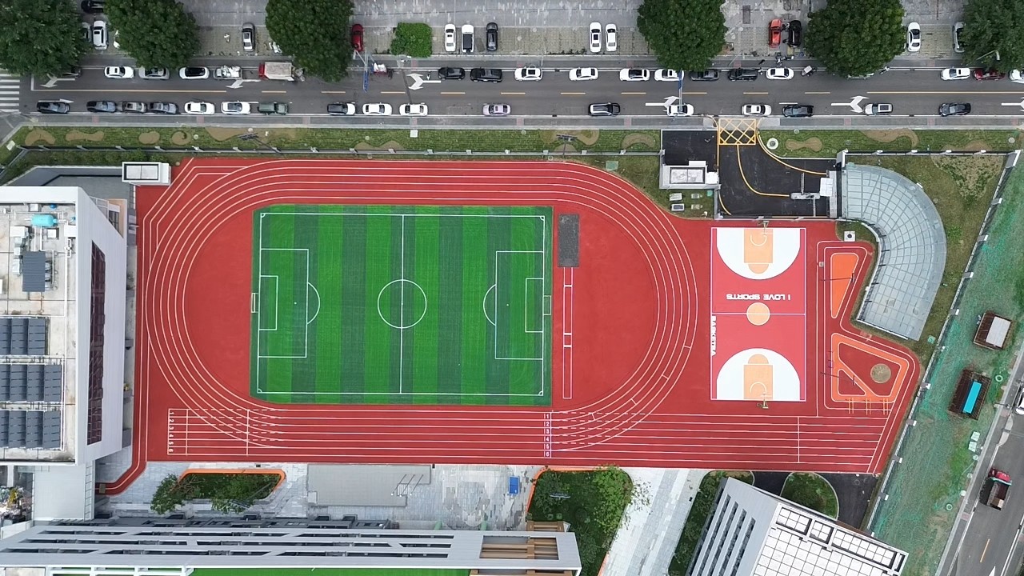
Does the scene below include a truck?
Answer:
Yes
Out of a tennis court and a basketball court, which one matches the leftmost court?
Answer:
basketball court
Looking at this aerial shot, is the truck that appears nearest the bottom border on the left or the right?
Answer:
right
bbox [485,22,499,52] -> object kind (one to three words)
car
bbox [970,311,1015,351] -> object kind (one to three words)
shed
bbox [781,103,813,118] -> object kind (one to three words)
car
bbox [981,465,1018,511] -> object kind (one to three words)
truck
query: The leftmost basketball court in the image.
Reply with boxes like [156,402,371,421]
[711,228,807,401]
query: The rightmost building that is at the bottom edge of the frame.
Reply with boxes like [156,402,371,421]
[683,478,908,576]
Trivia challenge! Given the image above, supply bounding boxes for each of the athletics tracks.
[95,158,921,495]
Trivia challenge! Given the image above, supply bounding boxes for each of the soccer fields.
[251,205,553,406]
